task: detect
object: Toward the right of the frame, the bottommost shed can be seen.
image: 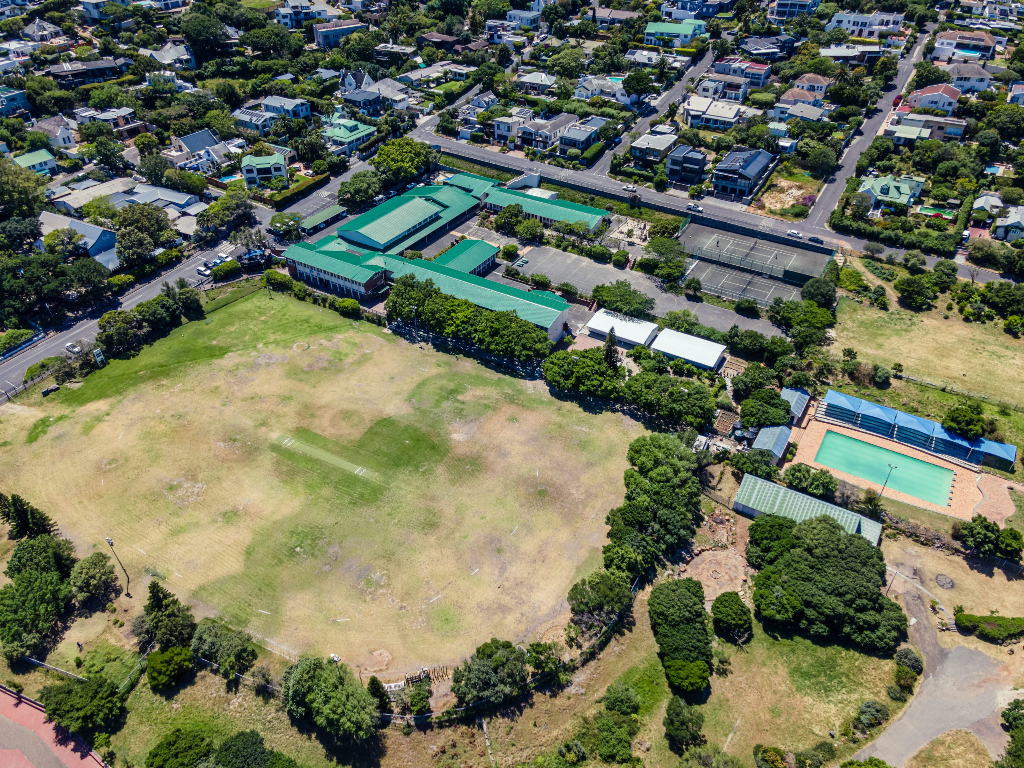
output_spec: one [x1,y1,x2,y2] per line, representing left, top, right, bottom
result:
[734,481,883,551]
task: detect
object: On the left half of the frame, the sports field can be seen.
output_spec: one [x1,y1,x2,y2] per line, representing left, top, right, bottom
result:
[275,435,378,479]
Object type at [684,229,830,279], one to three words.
tennis court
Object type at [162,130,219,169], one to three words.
house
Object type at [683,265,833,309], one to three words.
tennis court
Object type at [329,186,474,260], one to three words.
building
